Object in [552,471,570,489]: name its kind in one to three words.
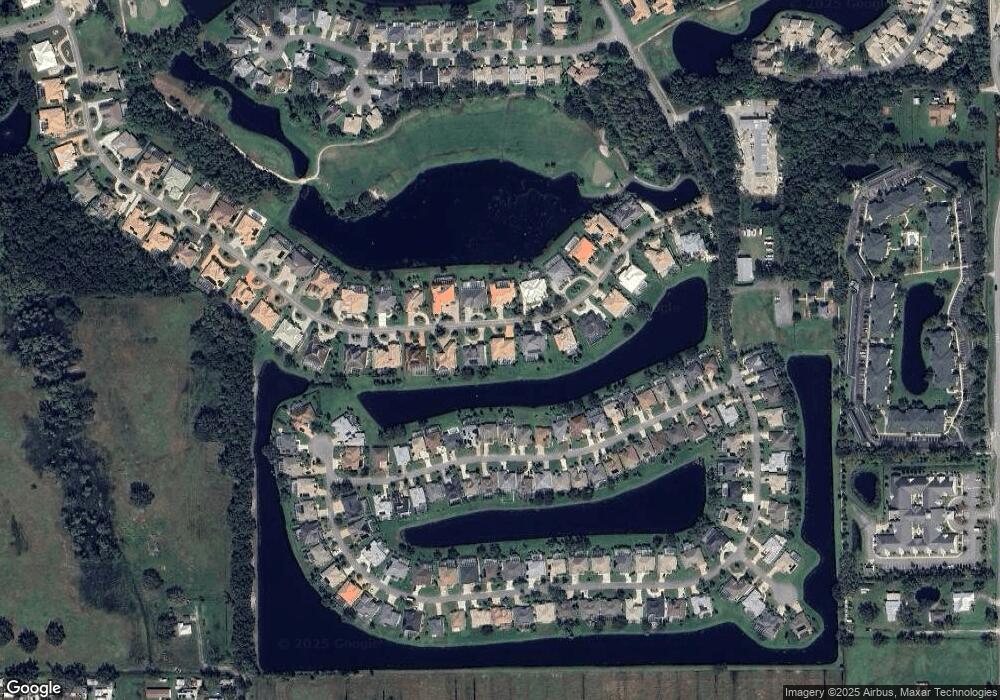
house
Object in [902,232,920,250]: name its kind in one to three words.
swimming pool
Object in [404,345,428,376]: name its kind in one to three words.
house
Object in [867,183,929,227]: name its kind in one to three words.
building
